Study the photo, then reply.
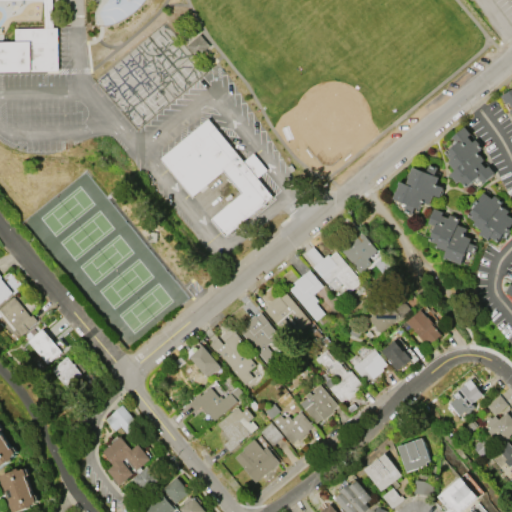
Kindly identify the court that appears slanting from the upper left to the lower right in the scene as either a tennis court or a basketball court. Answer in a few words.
tennis court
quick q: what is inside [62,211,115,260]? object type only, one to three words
tennis court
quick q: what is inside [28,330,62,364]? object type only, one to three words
house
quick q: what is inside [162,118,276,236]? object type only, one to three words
building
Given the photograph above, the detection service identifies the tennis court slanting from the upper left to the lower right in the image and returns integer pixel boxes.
[26,172,190,350]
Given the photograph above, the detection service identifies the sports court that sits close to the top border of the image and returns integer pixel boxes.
[95,0,148,27]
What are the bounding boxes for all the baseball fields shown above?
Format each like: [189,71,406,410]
[184,0,486,174]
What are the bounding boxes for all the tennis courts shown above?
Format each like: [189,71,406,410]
[101,260,154,308]
[26,172,190,350]
[62,211,115,260]
[42,186,96,236]
[82,235,134,284]
[120,284,174,333]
